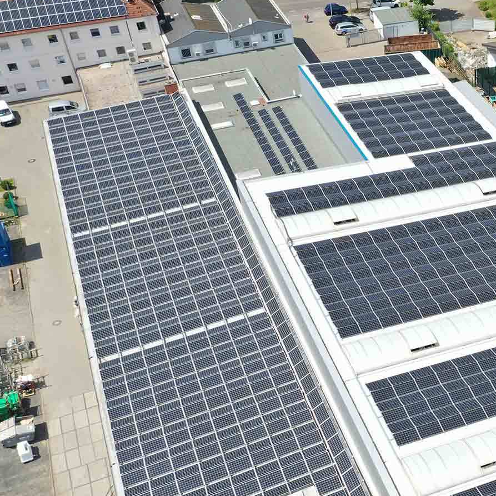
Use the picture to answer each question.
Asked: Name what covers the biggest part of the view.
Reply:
buildings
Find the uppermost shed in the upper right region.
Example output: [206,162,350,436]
[372,2,419,39]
